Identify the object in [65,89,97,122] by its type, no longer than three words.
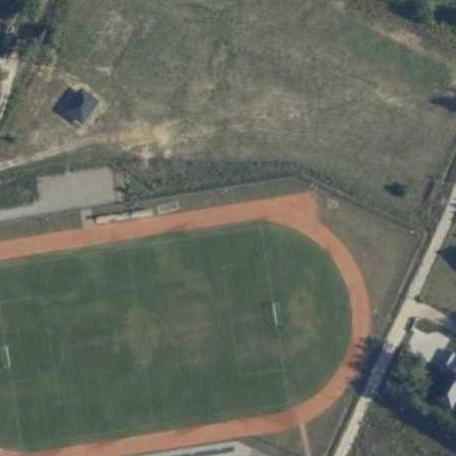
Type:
house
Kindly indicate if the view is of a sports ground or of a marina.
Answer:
sports ground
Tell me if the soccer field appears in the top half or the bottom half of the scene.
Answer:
bottom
